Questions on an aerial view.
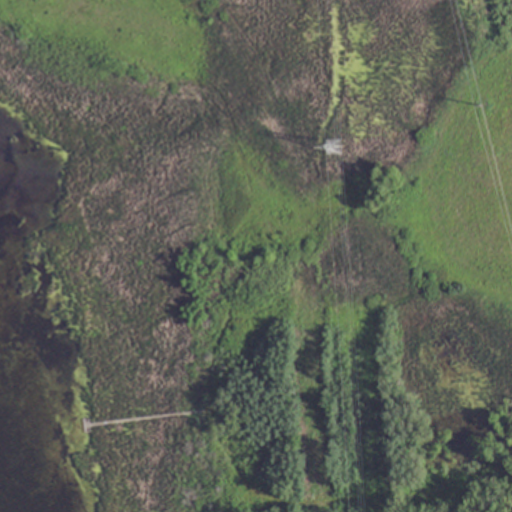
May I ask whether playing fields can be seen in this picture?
No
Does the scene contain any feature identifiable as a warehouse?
No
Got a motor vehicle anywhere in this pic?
No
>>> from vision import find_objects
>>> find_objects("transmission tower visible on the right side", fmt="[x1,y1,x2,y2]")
[314,140,344,158]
